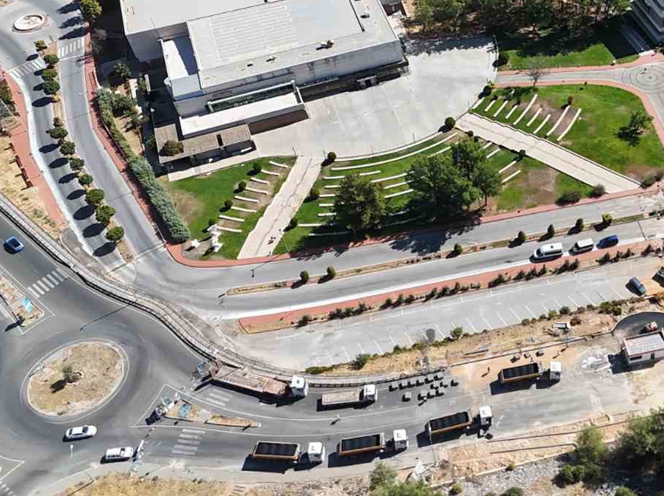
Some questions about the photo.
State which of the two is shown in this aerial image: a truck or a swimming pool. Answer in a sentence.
It is a truck that can be seen here.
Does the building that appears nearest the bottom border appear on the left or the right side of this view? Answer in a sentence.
The building that appears nearest the bottom border appears in the right half of the scene.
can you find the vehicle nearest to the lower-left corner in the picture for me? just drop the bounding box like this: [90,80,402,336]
[63,424,99,441]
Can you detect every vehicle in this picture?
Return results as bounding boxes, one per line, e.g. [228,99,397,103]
[192,357,314,401]
[654,268,664,280]
[572,237,596,253]
[597,234,620,249]
[3,238,24,253]
[335,429,409,462]
[641,319,658,333]
[102,445,134,463]
[316,381,379,412]
[626,276,648,296]
[63,424,99,441]
[247,442,327,470]
[533,240,565,262]
[426,405,494,441]
[497,357,563,390]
